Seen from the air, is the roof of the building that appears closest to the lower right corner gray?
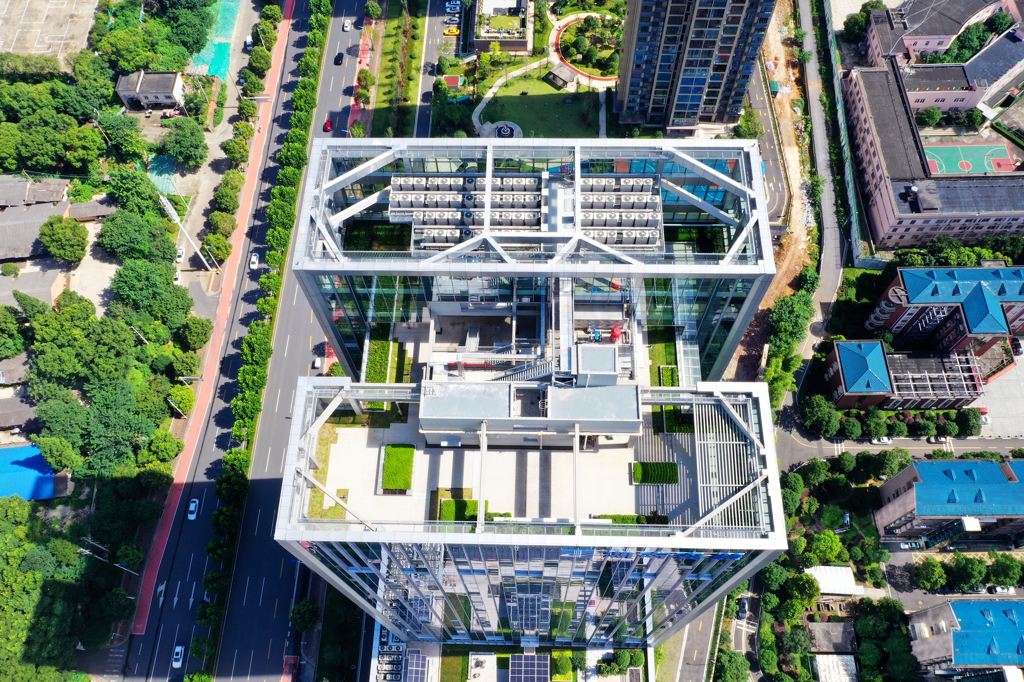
No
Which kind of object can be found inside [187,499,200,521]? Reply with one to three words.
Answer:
vehicle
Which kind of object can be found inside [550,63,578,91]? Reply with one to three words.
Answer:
building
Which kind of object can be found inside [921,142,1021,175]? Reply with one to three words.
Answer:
basketball court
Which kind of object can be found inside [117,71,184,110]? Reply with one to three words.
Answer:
house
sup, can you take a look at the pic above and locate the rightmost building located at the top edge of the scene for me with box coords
[842,0,1024,238]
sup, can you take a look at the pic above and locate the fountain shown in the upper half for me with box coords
[495,122,516,139]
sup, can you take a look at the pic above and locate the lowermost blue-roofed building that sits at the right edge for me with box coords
[909,598,1024,682]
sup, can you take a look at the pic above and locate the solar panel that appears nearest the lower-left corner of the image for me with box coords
[407,654,428,682]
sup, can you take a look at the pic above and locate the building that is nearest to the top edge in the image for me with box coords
[475,0,531,55]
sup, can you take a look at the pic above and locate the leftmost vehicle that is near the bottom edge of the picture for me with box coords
[171,644,185,670]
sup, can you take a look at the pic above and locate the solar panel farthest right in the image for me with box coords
[510,654,549,682]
